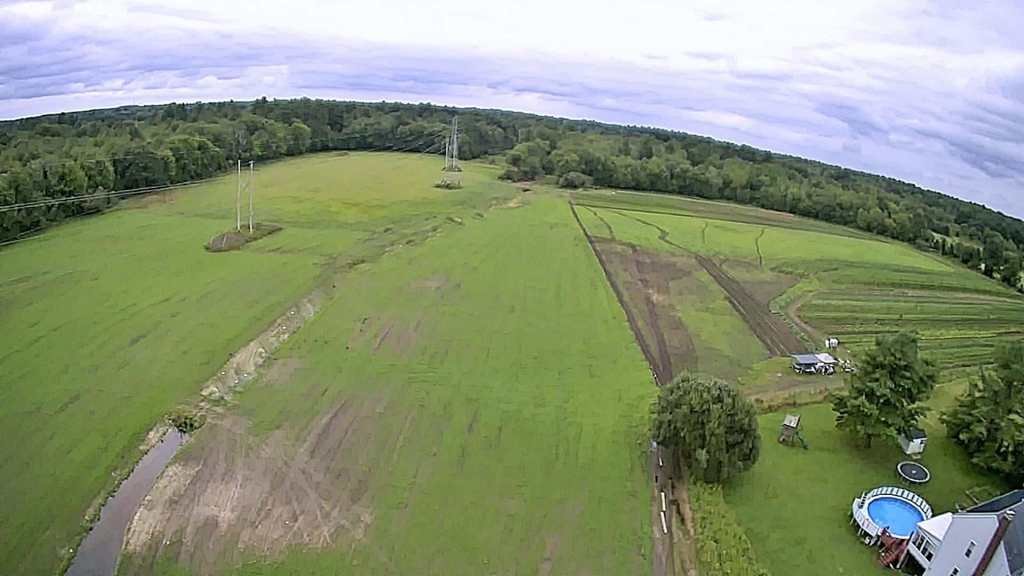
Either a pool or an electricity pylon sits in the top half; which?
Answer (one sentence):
Looking in the top half, you will find an electricity pylon.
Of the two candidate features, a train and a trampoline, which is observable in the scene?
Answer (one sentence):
This aerial view contains a trampoline.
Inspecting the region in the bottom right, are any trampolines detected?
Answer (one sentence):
Yes, a trampoline can be seen in the bottom right.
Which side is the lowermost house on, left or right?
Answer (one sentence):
It is on the right.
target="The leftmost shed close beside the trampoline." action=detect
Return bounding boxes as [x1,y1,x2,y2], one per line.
[900,424,930,457]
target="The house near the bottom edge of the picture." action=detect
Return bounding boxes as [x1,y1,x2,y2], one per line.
[908,485,1024,576]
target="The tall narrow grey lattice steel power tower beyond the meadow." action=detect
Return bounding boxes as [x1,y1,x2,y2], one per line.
[440,119,466,183]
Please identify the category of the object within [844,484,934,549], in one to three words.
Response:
swimming pool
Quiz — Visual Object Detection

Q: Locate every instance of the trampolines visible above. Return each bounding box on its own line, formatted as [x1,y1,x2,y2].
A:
[894,460,931,489]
